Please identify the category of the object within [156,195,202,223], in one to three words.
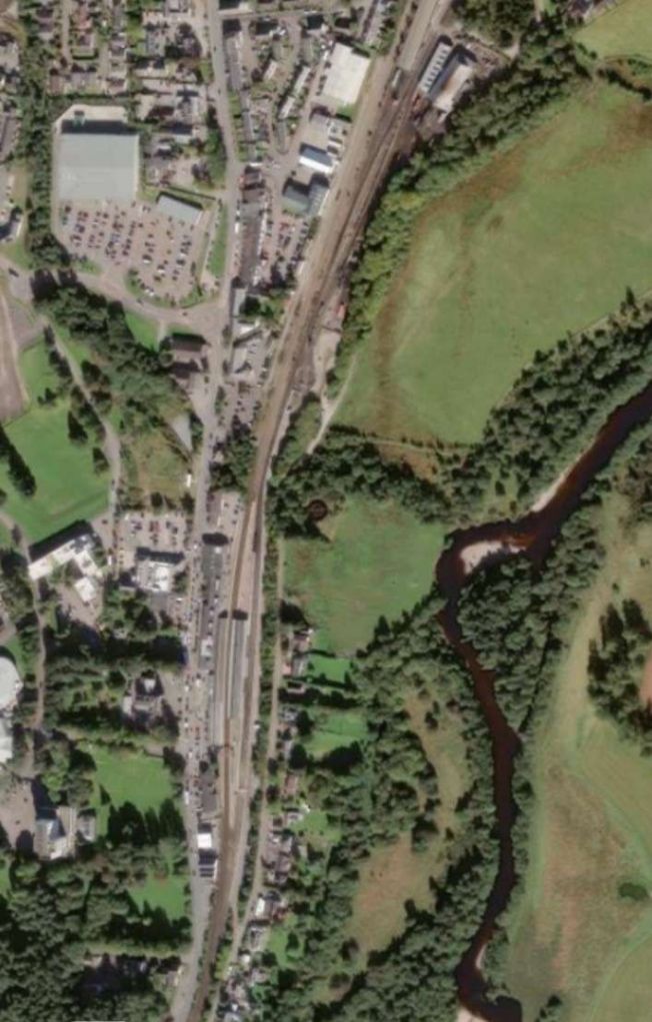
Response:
building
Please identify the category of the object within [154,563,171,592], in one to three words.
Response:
building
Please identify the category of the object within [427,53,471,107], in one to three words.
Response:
shed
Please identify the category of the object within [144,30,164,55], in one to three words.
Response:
house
